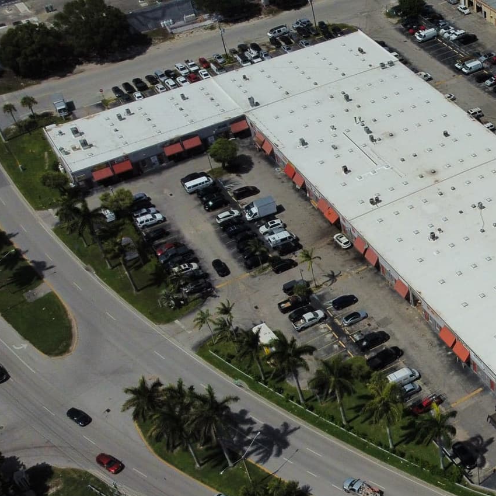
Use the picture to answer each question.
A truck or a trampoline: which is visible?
truck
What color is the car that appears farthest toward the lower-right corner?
black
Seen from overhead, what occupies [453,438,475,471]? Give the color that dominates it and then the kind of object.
black car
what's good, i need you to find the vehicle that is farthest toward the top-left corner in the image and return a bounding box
[47,89,69,118]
